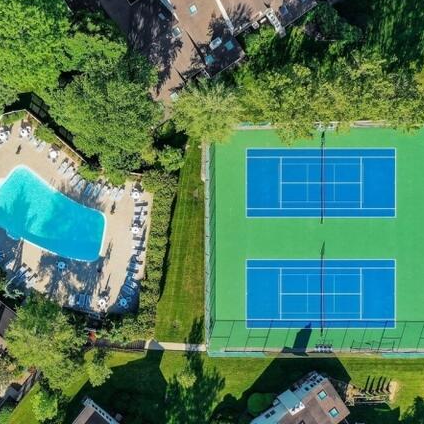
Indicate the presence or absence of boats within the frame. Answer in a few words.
No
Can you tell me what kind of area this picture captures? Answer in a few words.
sports ground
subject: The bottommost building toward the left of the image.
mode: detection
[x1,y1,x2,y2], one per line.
[68,392,122,424]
